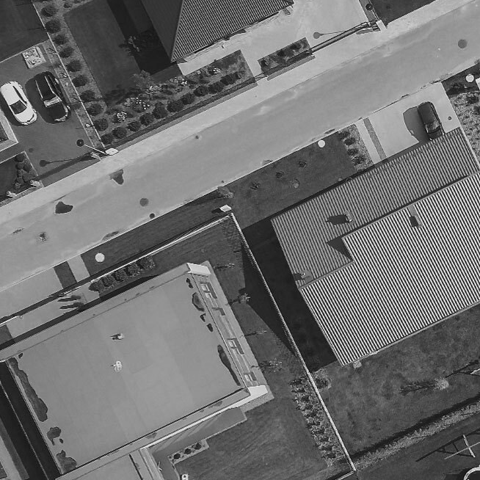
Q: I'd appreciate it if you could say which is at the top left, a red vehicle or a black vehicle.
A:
black vehicle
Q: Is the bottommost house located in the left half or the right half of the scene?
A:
left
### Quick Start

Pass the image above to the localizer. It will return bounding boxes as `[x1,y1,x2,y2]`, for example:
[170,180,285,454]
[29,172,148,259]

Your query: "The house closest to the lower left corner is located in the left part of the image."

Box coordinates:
[0,263,266,480]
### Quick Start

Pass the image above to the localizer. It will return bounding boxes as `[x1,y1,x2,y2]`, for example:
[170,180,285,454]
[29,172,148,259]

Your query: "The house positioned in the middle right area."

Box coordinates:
[270,127,480,365]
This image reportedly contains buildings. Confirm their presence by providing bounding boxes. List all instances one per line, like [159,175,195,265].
[0,263,266,480]
[140,0,296,65]
[270,127,480,365]
[0,102,21,154]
